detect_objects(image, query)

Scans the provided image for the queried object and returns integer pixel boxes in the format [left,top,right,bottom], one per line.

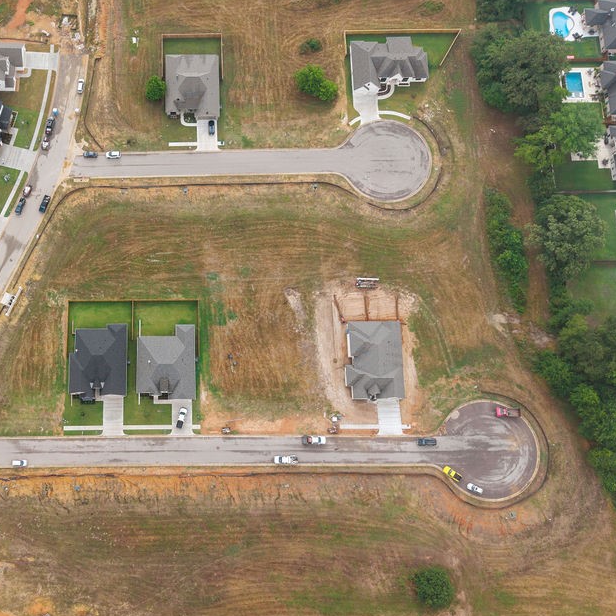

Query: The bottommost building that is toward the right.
[345,321,404,398]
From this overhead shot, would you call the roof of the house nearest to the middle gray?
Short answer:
Yes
